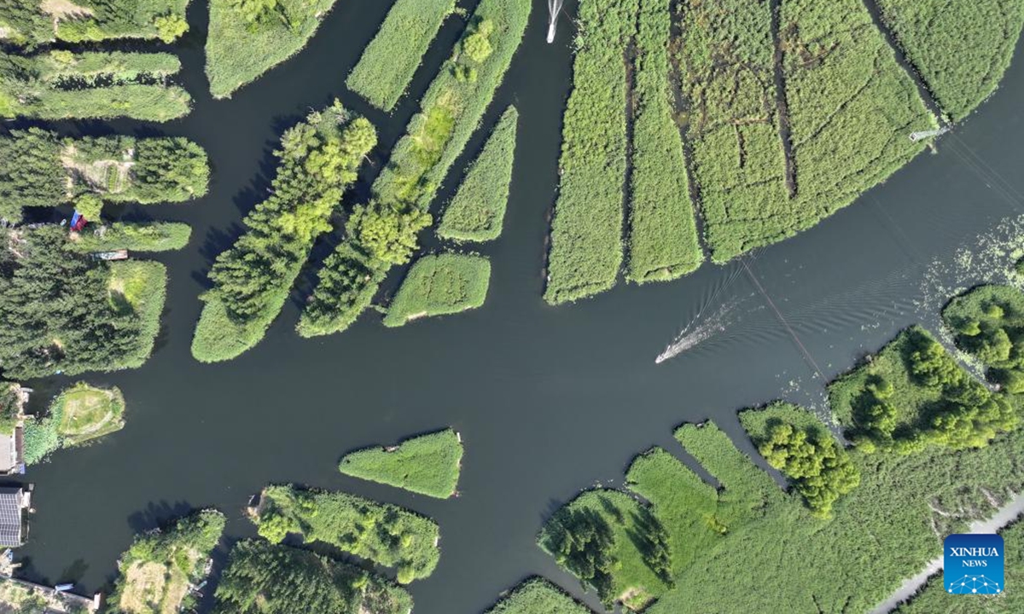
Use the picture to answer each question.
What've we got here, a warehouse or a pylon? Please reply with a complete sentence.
This aerial view contains a pylon.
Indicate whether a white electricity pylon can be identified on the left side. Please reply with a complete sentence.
No, looking on the left side, there is no white electricity pylon.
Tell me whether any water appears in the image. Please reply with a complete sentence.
Yes, water shows up in the scene.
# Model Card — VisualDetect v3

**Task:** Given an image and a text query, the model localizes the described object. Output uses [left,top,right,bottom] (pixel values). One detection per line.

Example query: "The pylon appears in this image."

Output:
[908,118,951,142]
